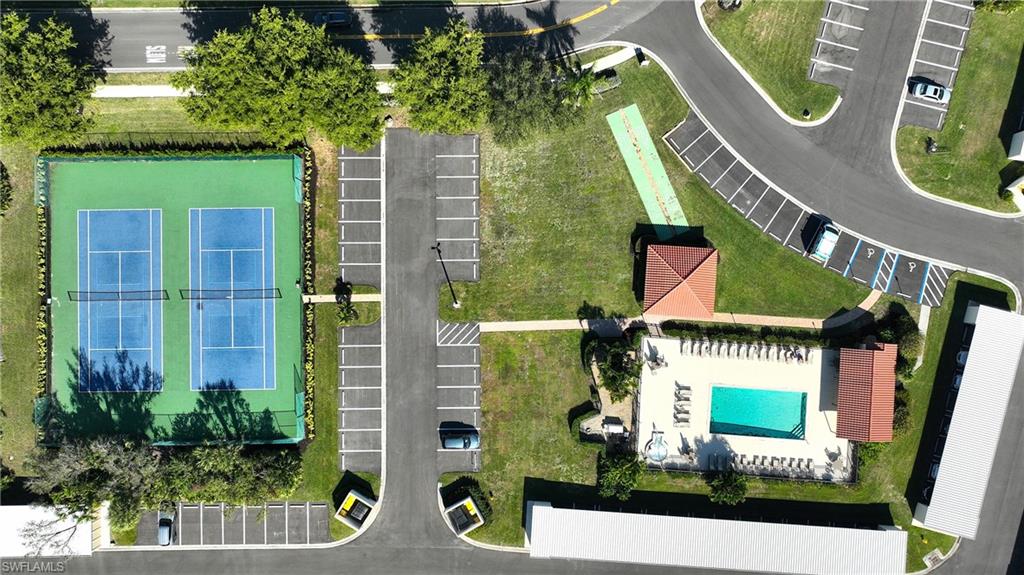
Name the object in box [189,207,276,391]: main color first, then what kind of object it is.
blue tennis court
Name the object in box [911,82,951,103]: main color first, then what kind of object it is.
white car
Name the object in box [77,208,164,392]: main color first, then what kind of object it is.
blue tennis court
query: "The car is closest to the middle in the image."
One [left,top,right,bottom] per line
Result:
[443,433,479,451]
